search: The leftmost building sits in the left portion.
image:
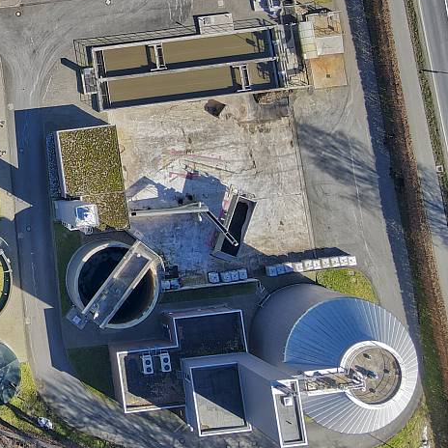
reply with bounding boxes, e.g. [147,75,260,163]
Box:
[53,124,131,236]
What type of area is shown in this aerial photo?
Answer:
industrial area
